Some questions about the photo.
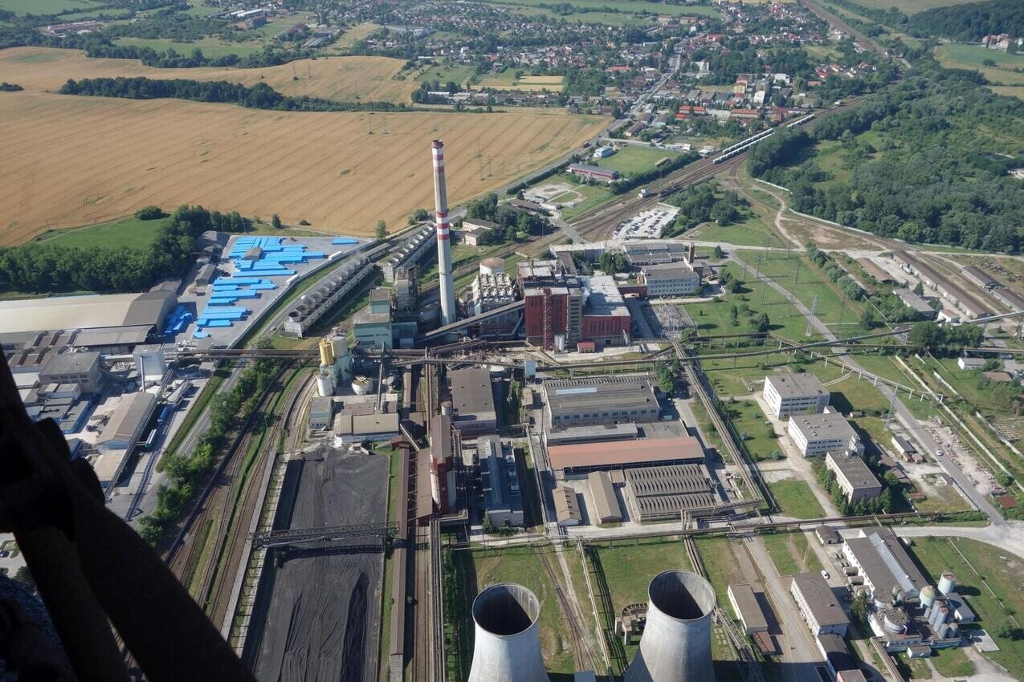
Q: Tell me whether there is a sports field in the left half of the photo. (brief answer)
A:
No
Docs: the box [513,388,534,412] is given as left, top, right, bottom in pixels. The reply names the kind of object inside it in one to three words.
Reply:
shed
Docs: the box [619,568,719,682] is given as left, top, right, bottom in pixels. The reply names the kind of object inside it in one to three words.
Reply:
cooling tower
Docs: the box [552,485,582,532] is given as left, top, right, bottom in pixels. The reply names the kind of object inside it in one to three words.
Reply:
building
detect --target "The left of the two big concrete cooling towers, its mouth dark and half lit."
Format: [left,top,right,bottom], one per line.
[467,582,549,682]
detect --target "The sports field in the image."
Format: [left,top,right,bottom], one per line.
[598,145,681,175]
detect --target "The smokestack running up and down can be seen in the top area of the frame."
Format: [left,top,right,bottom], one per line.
[430,141,456,333]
